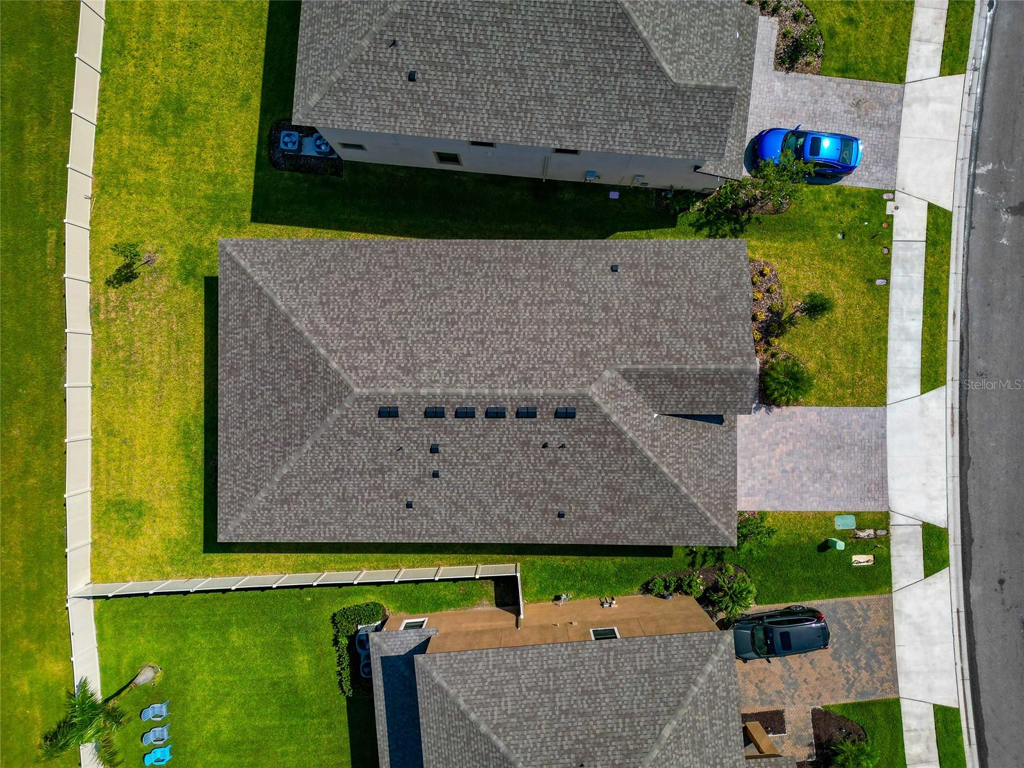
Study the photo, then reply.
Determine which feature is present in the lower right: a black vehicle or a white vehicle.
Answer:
black vehicle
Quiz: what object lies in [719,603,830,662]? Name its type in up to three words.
car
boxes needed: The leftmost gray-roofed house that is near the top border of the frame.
[292,0,758,192]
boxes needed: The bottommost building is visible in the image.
[369,596,798,768]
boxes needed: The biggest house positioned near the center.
[218,239,760,547]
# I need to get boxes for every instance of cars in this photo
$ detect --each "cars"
[719,603,830,662]
[751,125,862,180]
